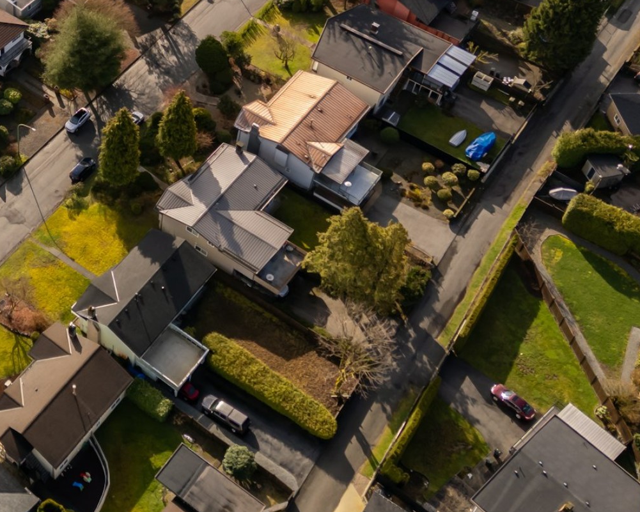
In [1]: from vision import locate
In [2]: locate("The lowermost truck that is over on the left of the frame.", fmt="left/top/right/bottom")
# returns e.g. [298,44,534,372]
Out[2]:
[201,398,250,436]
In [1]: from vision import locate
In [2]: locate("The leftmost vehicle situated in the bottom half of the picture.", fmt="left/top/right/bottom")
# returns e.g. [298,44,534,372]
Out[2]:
[164,378,205,403]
